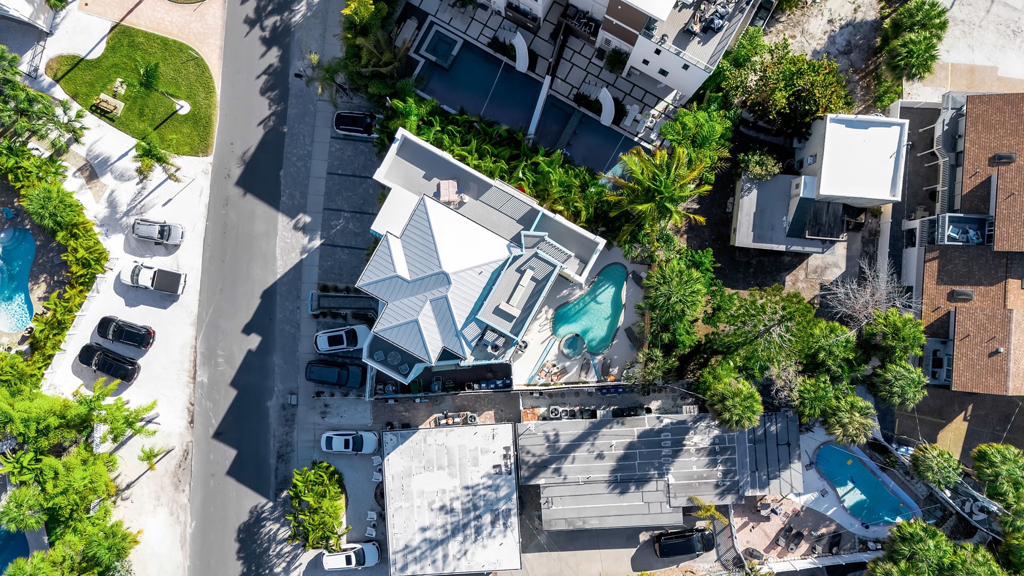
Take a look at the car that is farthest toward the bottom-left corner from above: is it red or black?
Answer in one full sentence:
From above, the car that is farthest toward the bottom-left corner appears black.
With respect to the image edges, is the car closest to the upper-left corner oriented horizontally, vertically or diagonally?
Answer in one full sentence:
I'd say the car closest to the upper-left corner is aligned horizontally in the picture.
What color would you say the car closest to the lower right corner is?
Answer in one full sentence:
From above, the car closest to the lower right corner appears black.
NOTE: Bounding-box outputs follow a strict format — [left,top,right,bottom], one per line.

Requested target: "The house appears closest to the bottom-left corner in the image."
[383,422,521,576]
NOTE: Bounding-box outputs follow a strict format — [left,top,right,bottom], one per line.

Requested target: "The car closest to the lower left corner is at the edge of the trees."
[79,344,142,382]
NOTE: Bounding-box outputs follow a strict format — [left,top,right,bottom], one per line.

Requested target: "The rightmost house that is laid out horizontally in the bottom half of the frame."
[518,406,802,531]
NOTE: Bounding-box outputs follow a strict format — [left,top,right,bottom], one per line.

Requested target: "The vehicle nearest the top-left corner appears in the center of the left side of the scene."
[127,219,186,246]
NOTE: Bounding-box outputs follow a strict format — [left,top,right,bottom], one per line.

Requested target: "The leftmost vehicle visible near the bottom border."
[323,543,381,572]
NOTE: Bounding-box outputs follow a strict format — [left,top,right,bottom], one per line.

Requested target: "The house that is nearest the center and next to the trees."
[355,128,607,385]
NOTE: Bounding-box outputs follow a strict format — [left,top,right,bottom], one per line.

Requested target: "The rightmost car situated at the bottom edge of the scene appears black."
[651,532,712,563]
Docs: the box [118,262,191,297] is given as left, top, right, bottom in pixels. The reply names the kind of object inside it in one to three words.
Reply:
truck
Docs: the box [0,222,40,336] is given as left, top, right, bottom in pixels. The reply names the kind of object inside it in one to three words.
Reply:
swimming pool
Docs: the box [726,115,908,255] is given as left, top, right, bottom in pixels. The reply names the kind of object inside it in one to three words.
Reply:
house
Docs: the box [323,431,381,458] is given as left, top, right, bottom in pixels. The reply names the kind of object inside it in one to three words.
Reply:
car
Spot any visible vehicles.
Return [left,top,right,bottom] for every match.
[118,262,191,297]
[127,219,186,246]
[651,532,712,563]
[79,344,142,382]
[323,431,381,458]
[331,110,388,136]
[323,543,381,572]
[312,325,371,354]
[306,361,367,391]
[96,316,157,350]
